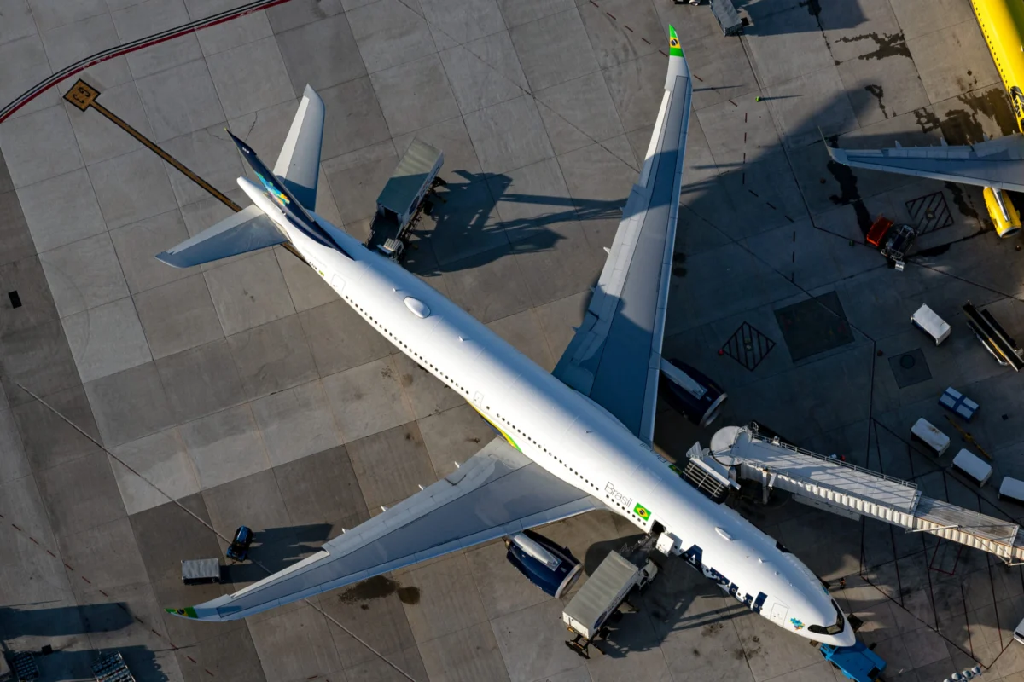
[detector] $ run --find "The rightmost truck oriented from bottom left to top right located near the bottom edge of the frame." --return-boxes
[557,528,653,662]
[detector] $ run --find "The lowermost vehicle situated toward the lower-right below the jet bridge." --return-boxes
[816,641,892,682]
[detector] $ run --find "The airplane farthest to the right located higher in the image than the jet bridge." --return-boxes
[822,0,1024,237]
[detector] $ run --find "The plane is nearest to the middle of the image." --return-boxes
[156,18,856,649]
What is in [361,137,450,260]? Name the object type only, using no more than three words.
truck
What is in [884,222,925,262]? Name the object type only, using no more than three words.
vehicle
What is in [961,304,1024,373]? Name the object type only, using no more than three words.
work vehicle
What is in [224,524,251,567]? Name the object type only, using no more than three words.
work vehicle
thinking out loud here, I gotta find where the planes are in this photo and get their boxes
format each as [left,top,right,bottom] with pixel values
[156,18,856,649]
[822,0,1024,237]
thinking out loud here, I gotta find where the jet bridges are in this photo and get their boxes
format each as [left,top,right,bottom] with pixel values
[681,420,1024,565]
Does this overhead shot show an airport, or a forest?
airport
